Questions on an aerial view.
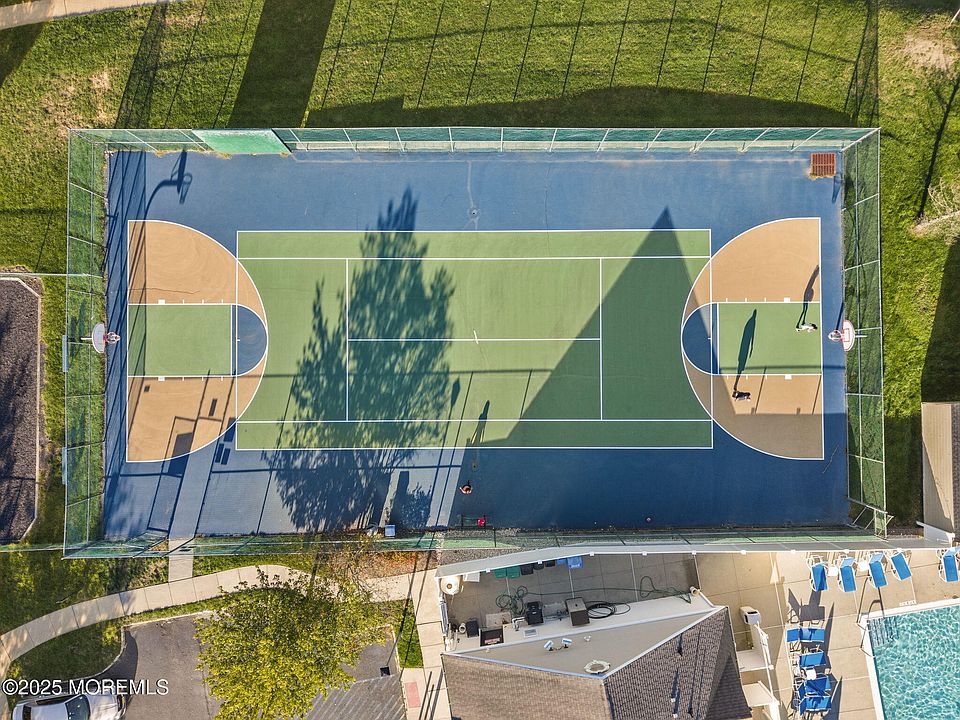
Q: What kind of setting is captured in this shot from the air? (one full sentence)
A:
The picture captures a sports ground.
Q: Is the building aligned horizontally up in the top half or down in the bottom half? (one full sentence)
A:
The bottom half of the photo is where the building aligned horizontally is.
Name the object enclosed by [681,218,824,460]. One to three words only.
basketball court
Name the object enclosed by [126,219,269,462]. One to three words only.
basketball court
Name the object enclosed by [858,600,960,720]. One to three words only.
swimming pool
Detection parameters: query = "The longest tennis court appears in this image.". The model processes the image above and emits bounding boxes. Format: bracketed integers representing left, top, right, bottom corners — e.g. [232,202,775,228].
[104,152,848,541]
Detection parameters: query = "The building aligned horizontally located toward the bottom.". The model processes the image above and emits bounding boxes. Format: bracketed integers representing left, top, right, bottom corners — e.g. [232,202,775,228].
[439,588,756,720]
